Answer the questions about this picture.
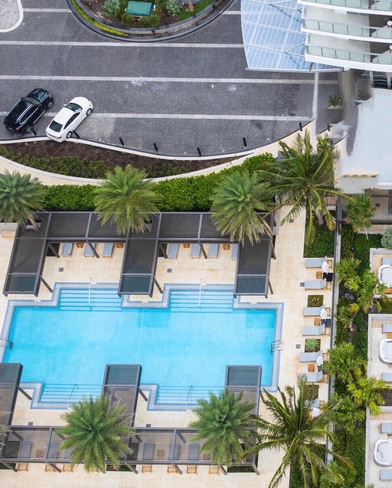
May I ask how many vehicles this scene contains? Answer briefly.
2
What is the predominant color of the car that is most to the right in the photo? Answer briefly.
white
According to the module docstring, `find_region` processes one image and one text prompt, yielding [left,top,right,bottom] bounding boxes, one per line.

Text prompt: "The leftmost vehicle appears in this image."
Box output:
[4,91,49,133]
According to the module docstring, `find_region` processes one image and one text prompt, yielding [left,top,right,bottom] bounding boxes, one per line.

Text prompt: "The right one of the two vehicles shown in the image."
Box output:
[40,98,91,142]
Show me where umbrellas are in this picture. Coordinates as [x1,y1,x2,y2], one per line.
[323,263,332,282]
[315,356,326,373]
[321,308,330,327]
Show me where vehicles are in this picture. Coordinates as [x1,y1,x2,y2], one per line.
[40,98,91,142]
[4,91,49,133]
